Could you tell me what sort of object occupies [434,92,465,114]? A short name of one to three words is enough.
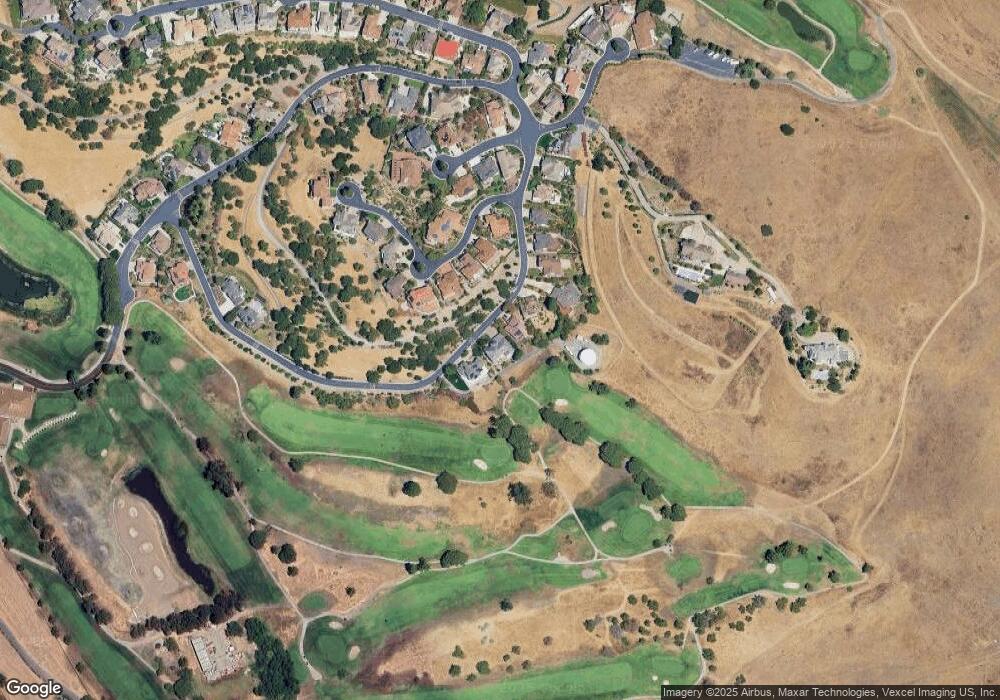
house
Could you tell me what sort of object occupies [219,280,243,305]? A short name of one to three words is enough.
house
